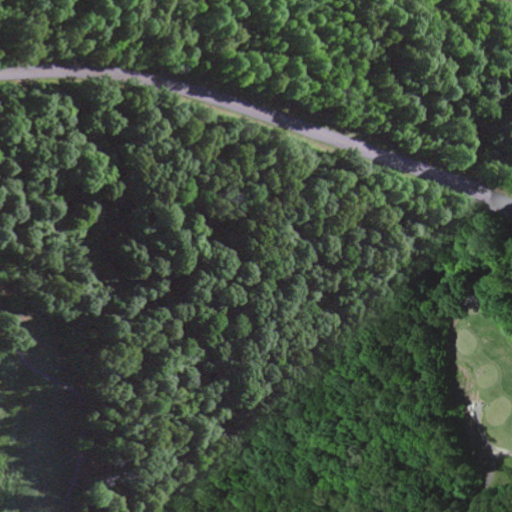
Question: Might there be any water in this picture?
No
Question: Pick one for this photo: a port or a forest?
forest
